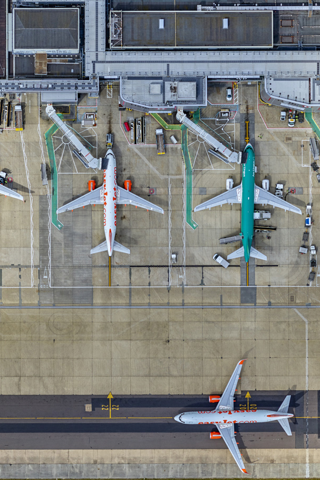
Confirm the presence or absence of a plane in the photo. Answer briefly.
Yes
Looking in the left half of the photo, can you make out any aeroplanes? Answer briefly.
Yes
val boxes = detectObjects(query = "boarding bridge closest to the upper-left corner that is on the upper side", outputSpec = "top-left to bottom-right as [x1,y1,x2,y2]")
[44,106,107,171]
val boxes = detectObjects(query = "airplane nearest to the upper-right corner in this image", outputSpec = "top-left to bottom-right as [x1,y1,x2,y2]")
[197,143,303,262]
